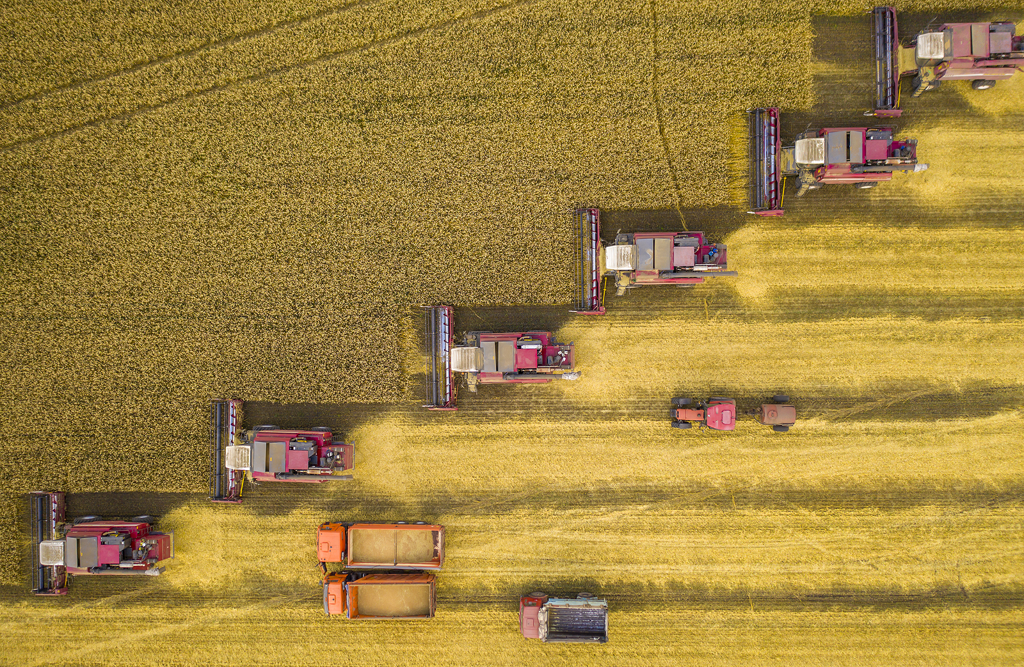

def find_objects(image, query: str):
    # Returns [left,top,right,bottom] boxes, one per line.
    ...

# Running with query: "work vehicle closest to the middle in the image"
[422,303,577,410]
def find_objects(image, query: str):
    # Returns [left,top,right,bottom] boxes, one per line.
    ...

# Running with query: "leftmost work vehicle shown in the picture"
[34,490,172,595]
